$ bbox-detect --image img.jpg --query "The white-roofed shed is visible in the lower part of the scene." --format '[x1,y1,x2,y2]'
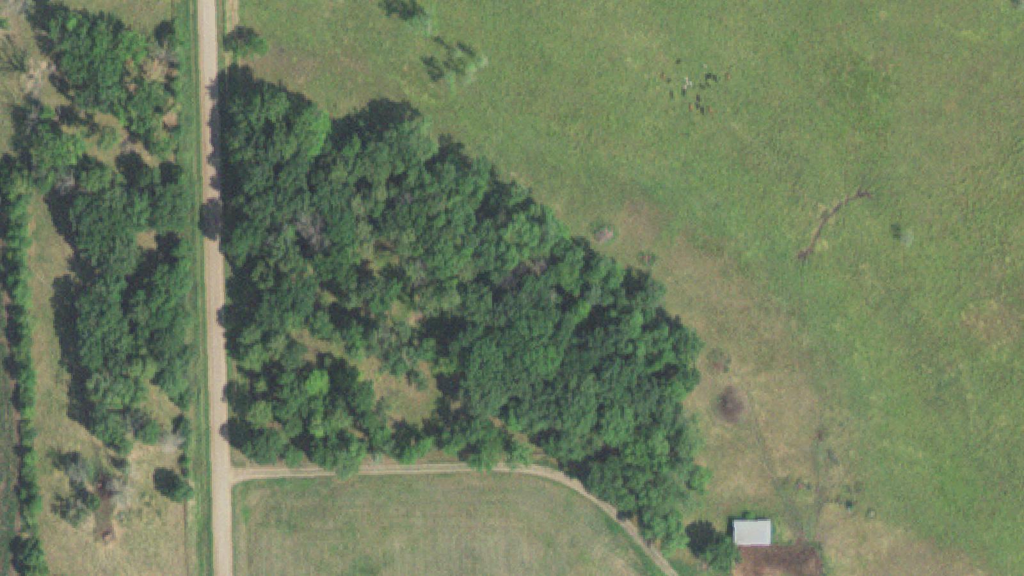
[733,519,771,545]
